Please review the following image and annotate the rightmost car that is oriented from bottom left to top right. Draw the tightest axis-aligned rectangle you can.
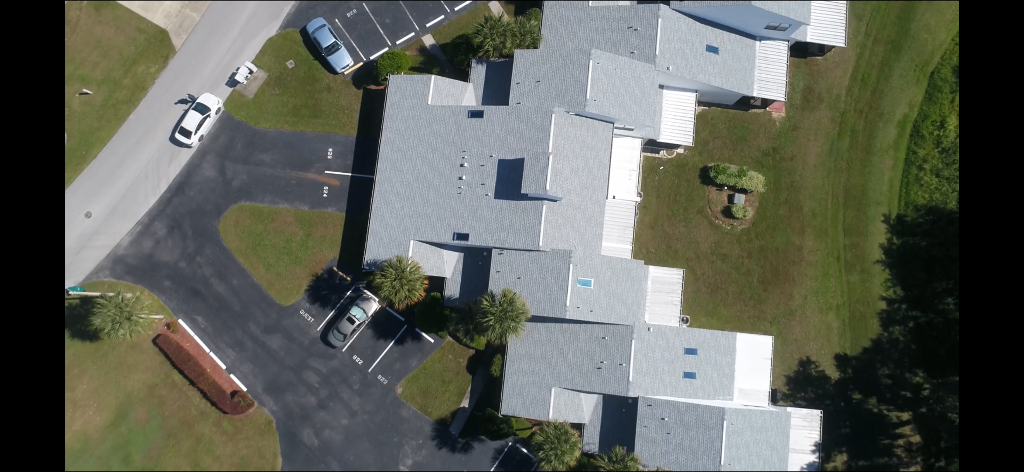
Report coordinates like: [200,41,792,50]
[325,294,378,349]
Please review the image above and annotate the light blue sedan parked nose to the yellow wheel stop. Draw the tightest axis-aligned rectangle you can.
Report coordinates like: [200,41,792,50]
[306,17,354,73]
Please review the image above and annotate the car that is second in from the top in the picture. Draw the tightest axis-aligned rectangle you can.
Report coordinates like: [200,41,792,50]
[176,93,225,148]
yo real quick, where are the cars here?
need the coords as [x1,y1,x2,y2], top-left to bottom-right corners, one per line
[306,17,354,73]
[325,294,378,349]
[176,93,225,148]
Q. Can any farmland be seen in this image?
No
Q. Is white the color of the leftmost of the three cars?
Yes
